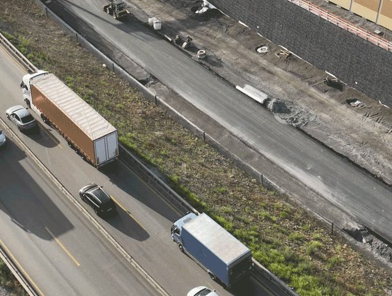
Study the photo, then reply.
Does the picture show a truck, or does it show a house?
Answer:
truck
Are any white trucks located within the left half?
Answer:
Yes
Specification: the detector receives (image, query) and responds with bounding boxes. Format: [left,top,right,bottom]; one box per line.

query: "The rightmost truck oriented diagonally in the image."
[167,204,249,285]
